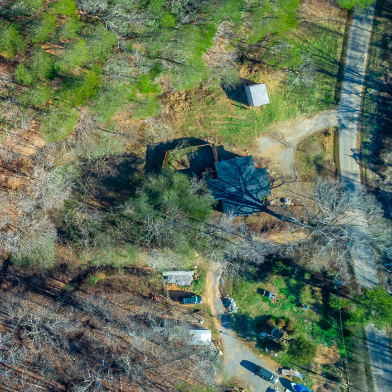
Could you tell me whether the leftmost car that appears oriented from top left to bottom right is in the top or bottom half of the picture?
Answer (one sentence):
It is in the bottom half that the leftmost car that appears oriented from top left to bottom right appears.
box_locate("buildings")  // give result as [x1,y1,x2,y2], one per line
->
[159,269,194,285]
[244,84,269,107]
[198,149,271,217]
[168,326,211,343]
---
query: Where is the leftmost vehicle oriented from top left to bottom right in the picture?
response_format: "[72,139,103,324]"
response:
[254,364,279,383]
